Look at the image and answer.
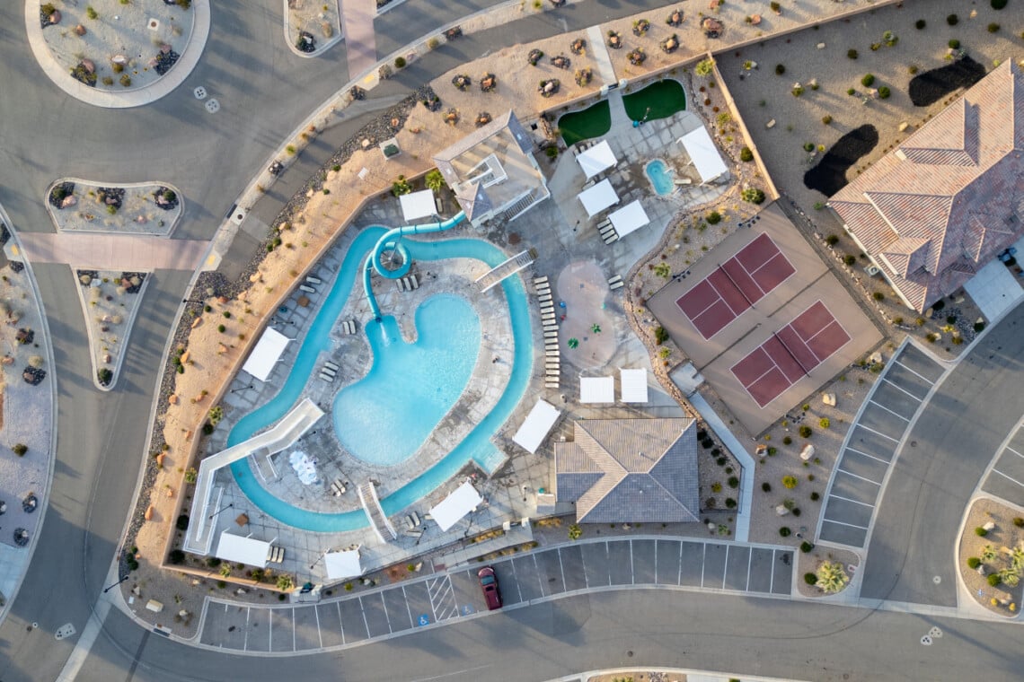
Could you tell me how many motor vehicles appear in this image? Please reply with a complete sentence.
I count just 1 motor vehicle.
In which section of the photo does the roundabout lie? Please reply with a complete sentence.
Look in the top left portion of the view to spot the roundabout.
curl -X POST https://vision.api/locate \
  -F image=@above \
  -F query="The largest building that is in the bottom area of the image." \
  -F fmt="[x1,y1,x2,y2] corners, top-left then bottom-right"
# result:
[554,418,700,524]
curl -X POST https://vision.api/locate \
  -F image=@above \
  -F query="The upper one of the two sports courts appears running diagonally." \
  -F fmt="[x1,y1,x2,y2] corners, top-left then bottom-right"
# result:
[676,231,797,341]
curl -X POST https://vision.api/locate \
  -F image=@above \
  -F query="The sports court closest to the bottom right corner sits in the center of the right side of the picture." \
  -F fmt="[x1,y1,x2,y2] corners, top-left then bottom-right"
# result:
[730,299,852,409]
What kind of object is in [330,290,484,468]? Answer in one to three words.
swimming pool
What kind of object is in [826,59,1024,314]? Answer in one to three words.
house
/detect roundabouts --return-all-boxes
[38,0,195,93]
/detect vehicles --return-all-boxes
[475,567,499,616]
